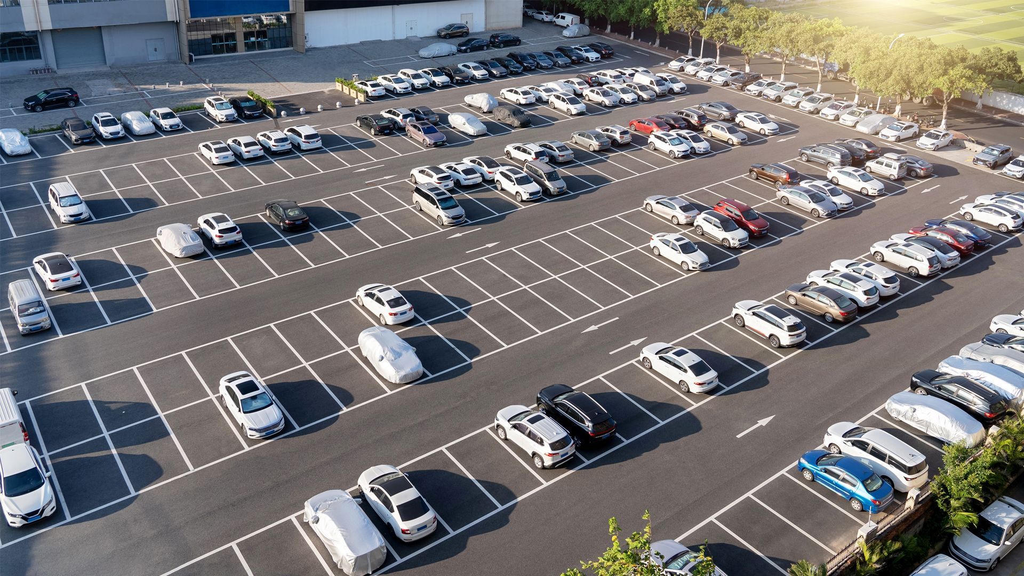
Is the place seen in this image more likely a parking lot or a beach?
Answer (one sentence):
What you see here is a parking lot.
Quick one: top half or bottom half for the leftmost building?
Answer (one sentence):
Seen from above, the leftmost building lies in the top half of the view.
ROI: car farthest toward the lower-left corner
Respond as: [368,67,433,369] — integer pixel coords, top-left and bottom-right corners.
[0,443,57,527]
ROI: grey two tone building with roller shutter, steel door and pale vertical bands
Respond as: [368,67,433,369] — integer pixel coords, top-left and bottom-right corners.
[0,0,185,78]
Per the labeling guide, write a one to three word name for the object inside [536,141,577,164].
car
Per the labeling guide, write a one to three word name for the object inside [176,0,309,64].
building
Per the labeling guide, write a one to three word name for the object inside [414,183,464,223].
car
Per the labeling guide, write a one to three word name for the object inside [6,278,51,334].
vehicle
